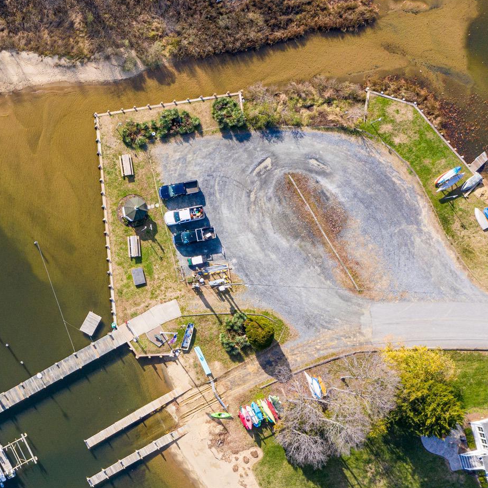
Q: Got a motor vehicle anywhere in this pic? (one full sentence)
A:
Yes, there's a motor vehicle down there.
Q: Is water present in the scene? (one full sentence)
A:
Yes, there's water in this view.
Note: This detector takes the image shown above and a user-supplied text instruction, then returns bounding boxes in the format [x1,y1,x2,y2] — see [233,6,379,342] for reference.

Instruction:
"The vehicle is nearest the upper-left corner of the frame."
[157,179,199,201]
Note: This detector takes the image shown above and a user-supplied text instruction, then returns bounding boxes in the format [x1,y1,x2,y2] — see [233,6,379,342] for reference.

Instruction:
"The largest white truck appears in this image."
[162,206,206,227]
